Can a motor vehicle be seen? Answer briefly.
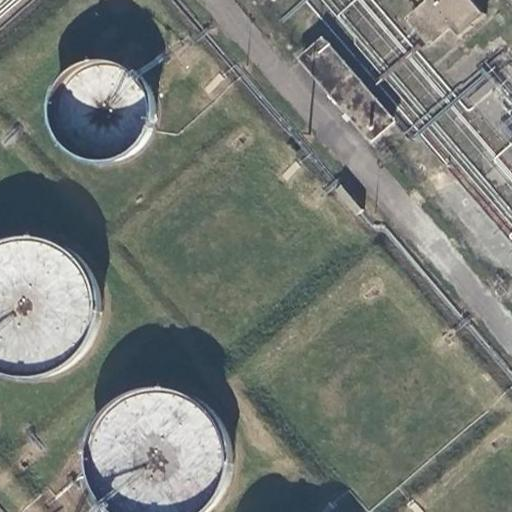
No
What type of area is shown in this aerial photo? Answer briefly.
industrial area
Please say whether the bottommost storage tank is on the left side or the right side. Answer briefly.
left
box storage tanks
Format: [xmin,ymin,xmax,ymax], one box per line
[44,54,167,166]
[0,235,100,382]
[82,388,233,512]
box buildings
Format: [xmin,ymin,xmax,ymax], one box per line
[297,38,398,144]
[406,0,488,46]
